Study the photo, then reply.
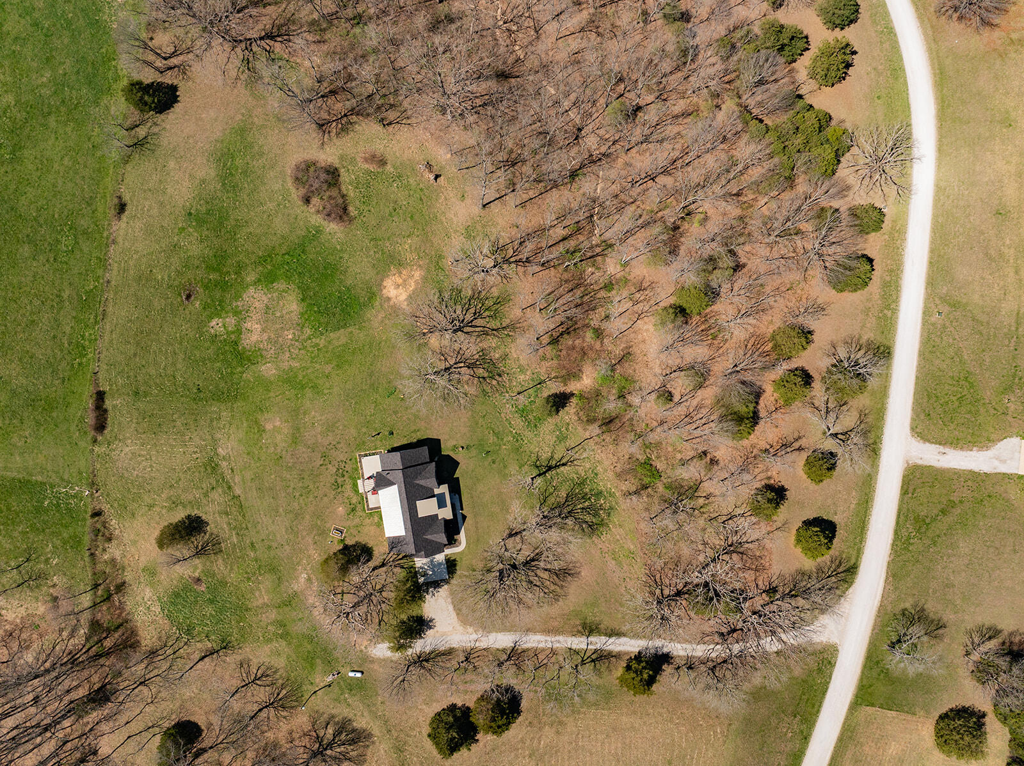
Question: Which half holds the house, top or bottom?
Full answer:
Seen from above, the house lies in the bottom half of the view.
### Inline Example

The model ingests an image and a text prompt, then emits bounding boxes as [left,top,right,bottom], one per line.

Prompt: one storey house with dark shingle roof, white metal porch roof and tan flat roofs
[375,447,453,558]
